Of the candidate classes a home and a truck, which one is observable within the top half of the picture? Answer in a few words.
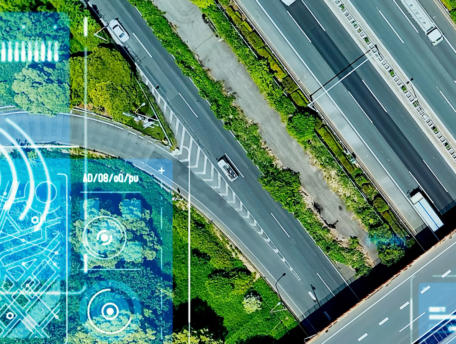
truck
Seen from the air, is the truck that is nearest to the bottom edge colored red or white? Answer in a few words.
white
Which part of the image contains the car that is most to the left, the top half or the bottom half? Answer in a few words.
top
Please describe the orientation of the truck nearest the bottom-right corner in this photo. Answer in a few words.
diagonally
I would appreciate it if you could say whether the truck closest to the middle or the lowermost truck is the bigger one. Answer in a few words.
the lowermost truck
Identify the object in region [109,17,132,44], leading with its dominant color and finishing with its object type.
white car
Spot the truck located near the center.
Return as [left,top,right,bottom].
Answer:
[214,154,240,182]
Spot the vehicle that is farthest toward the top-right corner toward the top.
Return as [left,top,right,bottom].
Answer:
[400,0,448,50]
